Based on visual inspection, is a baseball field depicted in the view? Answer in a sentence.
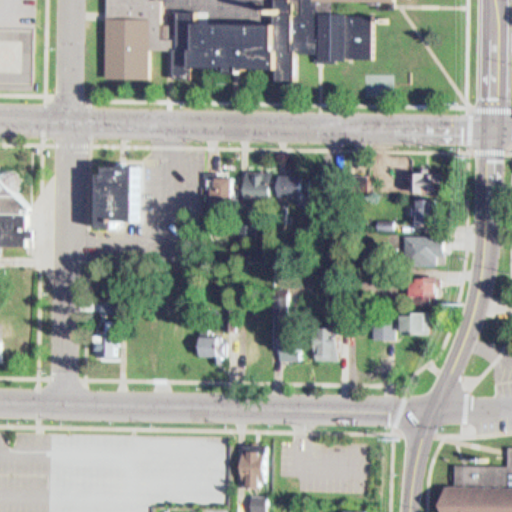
No, I can see no baseball field in this picture.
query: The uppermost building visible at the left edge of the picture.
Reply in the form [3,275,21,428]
[0,28,36,92]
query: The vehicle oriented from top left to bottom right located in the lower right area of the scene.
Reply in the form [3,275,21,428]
[404,410,420,426]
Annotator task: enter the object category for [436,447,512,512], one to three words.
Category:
building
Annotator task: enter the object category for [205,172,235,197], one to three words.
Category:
house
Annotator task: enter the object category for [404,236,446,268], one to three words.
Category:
house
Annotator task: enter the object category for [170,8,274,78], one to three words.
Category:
building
